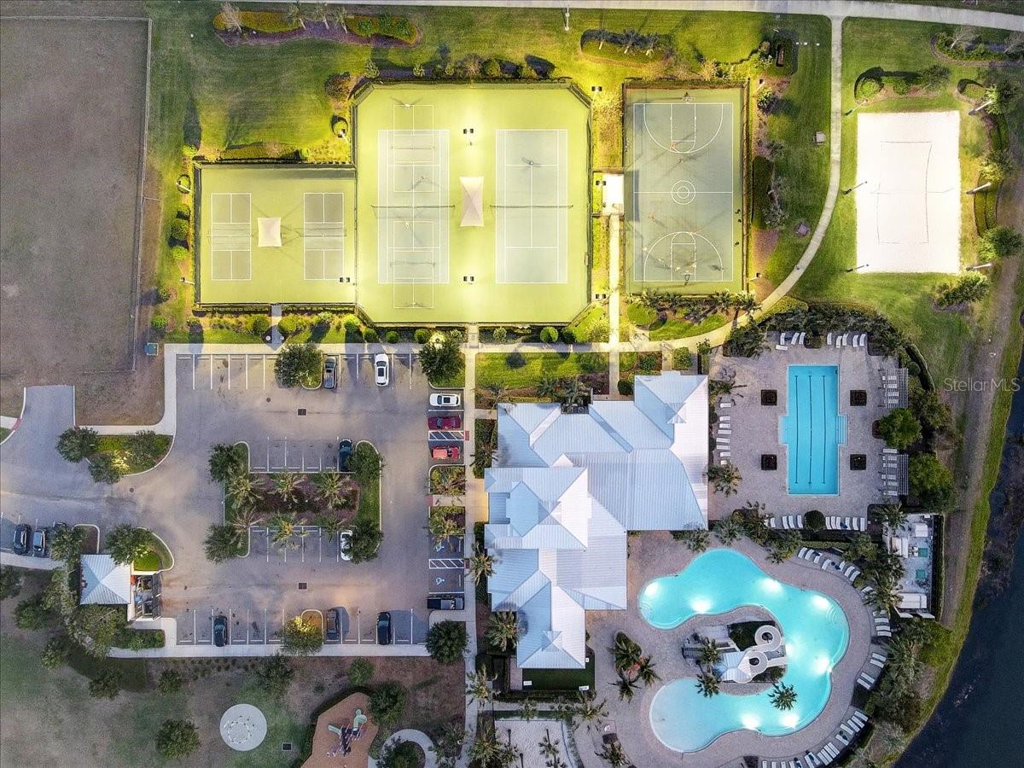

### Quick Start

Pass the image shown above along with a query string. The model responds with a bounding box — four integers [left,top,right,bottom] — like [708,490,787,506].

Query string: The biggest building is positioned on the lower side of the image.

[485,375,708,669]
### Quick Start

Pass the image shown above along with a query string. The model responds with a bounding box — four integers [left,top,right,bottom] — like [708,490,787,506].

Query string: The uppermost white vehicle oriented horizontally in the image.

[429,392,460,407]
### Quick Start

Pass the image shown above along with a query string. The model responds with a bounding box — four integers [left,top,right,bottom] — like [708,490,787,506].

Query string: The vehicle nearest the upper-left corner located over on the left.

[323,356,338,388]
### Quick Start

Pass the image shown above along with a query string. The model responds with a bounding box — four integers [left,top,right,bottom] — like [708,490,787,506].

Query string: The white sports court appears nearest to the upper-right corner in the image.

[856,111,960,273]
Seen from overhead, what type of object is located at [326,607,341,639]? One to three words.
car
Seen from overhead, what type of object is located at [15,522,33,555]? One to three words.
car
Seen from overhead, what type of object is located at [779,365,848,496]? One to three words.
swimming pool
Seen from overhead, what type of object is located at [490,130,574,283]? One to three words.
tennis court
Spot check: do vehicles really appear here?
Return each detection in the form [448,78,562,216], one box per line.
[326,607,341,639]
[212,614,229,646]
[429,415,460,430]
[15,522,33,555]
[374,354,388,385]
[339,529,353,561]
[32,526,51,559]
[429,392,460,407]
[427,594,464,611]
[376,612,391,644]
[338,440,353,471]
[323,356,338,388]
